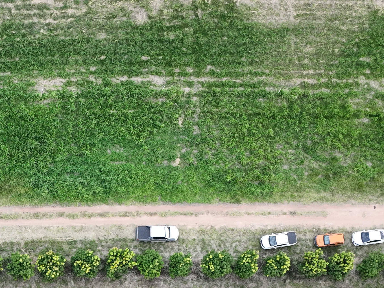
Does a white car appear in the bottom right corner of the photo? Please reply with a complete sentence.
Yes, there is a white car in the bottom right corner of the photo.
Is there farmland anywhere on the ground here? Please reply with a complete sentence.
Yes, the picture does contain farmland.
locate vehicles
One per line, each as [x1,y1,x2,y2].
[349,229,384,248]
[312,231,347,249]
[135,224,178,243]
[258,230,298,250]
